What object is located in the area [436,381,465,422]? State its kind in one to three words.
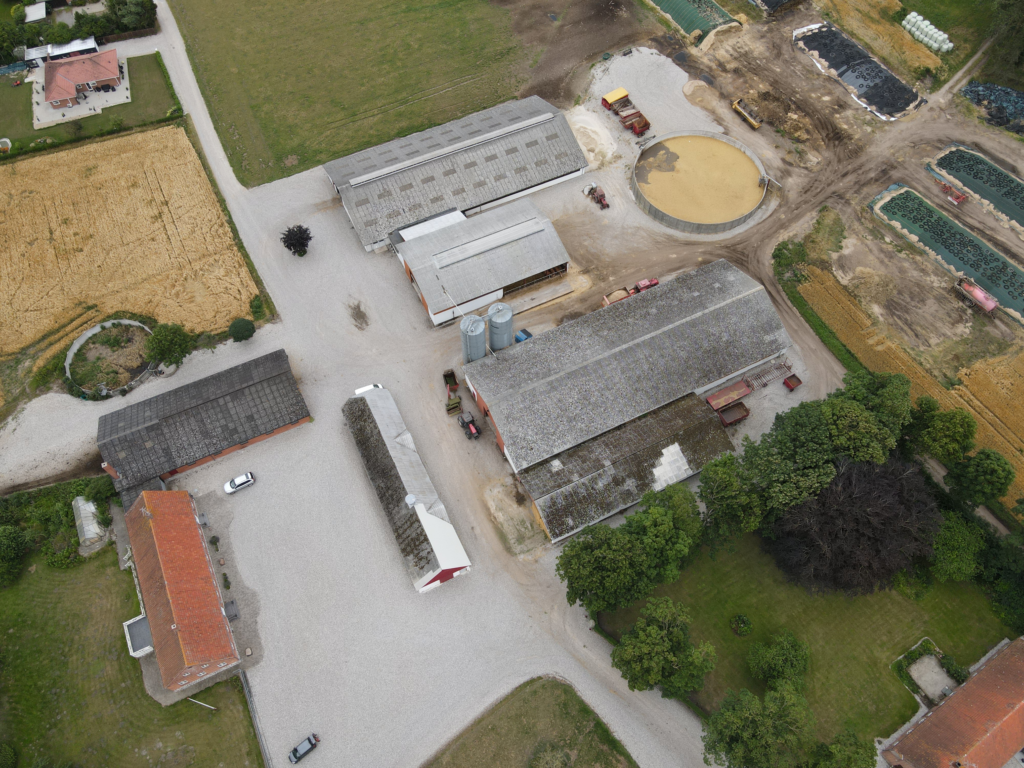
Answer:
work vehicle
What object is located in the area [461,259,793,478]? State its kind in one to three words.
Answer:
barn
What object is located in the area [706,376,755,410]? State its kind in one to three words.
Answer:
trailer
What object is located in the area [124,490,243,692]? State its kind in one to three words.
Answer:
house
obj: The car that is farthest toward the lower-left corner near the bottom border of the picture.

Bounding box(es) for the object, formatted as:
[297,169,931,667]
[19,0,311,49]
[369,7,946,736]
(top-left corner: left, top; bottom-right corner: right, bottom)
[283,730,321,768]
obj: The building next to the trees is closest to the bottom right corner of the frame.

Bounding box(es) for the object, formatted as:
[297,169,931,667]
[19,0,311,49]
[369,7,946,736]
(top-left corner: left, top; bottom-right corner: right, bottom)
[886,637,1024,768]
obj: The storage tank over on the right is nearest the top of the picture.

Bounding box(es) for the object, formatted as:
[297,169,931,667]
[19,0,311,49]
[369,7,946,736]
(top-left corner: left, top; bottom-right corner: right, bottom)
[633,129,766,235]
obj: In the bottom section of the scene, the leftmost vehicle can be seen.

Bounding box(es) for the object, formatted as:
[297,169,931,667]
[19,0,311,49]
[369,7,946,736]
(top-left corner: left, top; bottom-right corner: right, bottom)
[221,470,257,495]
